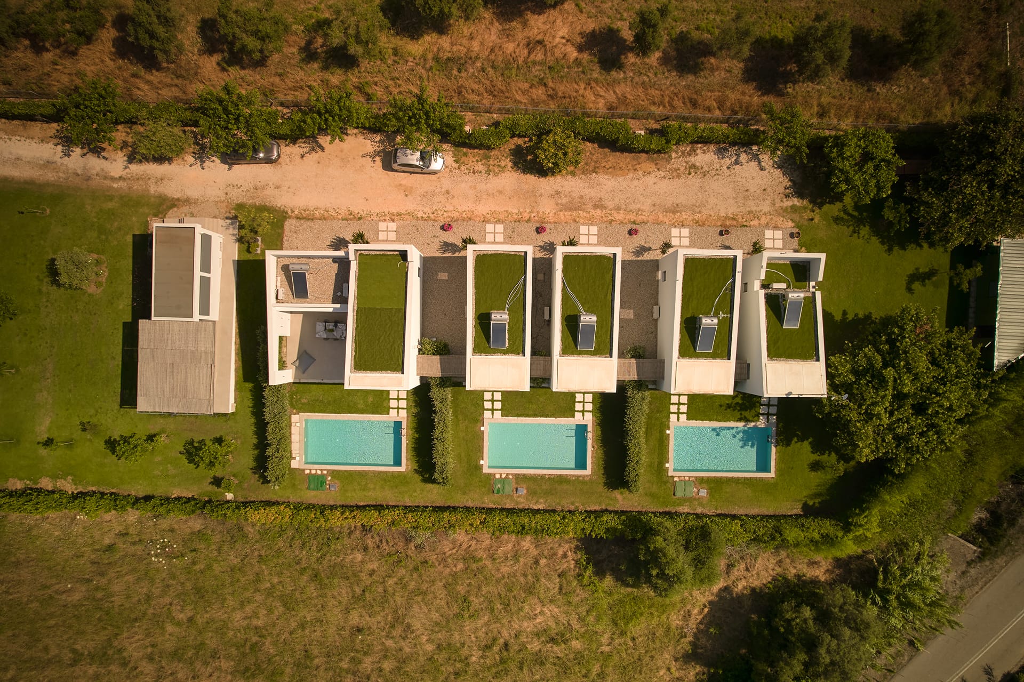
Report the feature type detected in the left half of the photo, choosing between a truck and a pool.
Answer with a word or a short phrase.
pool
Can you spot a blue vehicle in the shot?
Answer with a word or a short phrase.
No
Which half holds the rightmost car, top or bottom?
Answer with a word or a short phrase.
top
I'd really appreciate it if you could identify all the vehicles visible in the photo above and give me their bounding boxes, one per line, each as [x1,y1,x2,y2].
[391,148,445,175]
[225,137,282,166]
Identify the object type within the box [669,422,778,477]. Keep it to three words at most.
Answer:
swimming pool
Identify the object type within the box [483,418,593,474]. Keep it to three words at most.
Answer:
swimming pool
